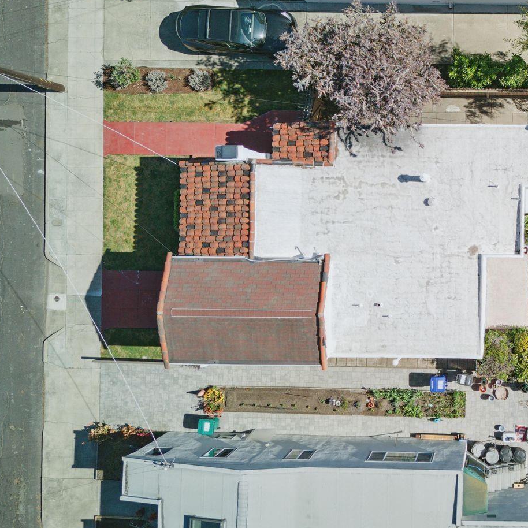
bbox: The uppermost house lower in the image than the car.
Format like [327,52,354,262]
[149,124,528,373]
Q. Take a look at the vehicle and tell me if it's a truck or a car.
car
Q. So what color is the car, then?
black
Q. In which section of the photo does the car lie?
top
